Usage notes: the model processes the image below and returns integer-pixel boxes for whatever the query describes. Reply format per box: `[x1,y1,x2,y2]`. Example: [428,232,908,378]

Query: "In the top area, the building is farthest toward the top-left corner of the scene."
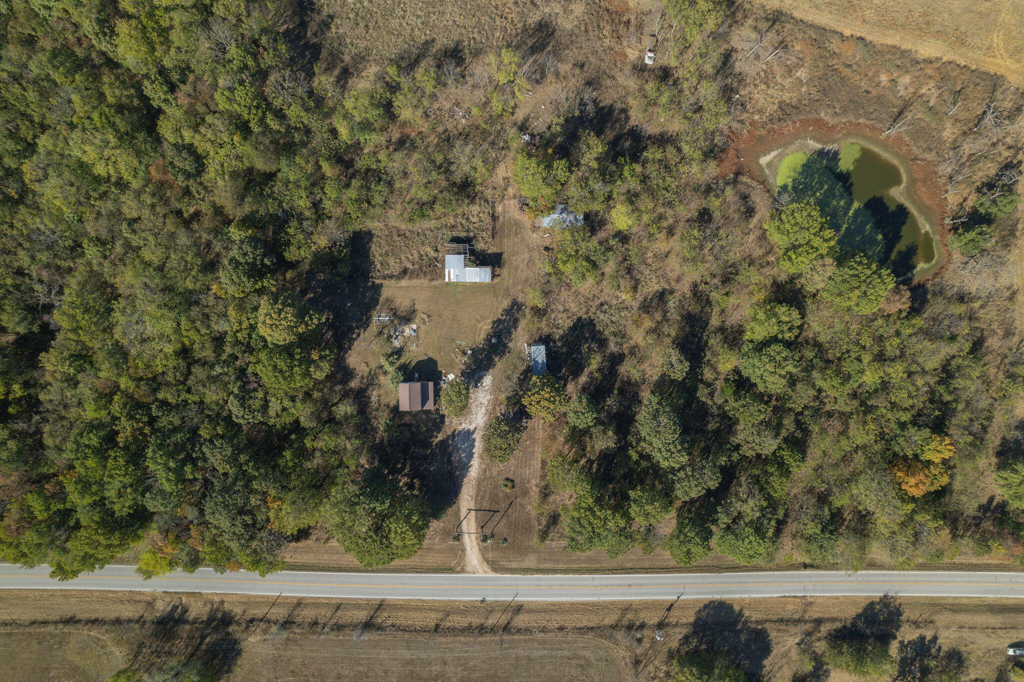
[445,242,491,282]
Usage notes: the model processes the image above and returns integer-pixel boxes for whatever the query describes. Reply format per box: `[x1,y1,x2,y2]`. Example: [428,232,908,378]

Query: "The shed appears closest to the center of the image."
[531,341,548,380]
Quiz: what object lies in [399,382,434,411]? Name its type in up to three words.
house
